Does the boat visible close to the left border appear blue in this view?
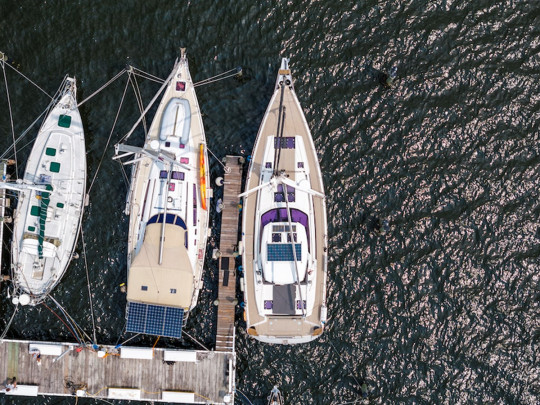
No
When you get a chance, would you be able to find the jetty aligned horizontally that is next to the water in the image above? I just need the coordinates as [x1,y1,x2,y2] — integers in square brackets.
[0,338,237,405]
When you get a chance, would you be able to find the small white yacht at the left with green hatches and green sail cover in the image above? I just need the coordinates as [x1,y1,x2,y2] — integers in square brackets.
[0,75,89,305]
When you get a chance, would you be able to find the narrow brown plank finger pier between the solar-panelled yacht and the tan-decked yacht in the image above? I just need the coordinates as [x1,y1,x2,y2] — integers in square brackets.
[214,156,247,352]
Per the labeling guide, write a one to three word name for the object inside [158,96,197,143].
boat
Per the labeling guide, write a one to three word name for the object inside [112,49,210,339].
boat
